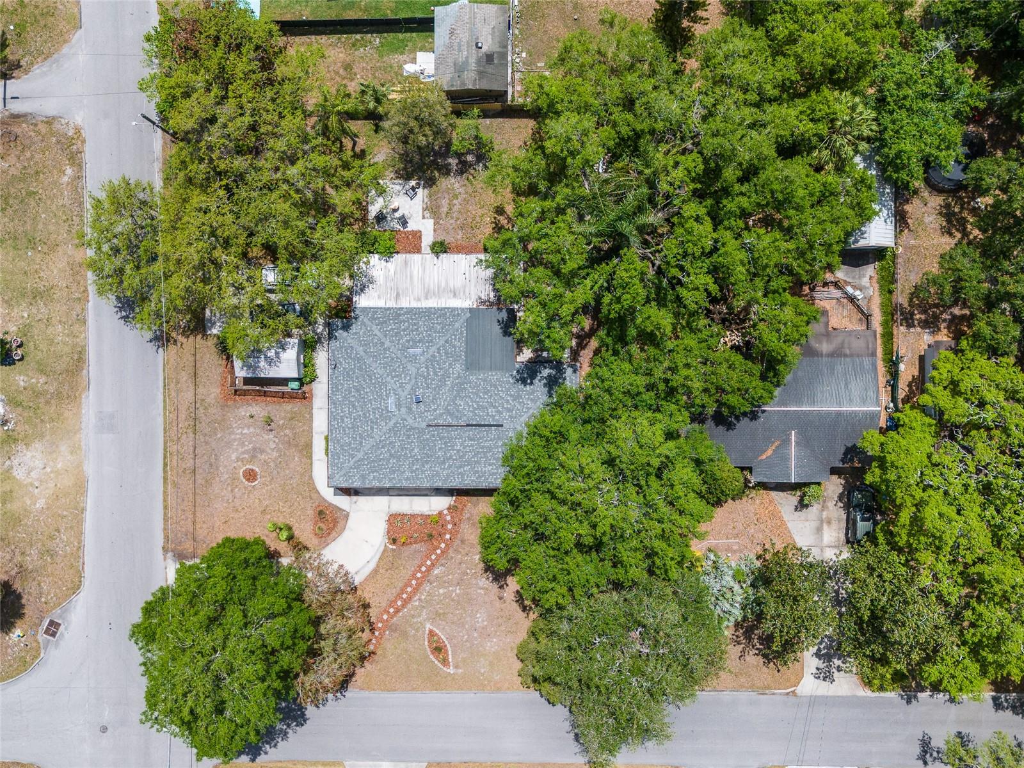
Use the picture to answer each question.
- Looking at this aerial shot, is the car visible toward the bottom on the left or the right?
right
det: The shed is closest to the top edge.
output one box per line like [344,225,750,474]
[435,0,509,119]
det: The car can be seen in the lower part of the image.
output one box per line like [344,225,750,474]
[845,482,877,544]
